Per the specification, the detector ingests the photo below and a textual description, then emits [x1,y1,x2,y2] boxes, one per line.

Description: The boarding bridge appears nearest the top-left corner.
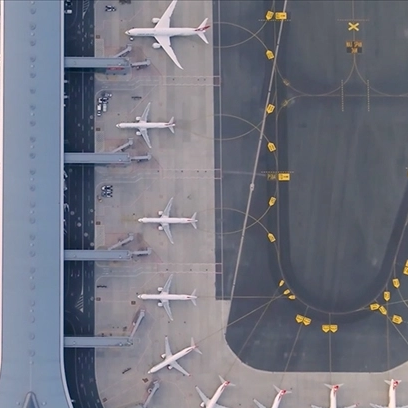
[64,44,152,75]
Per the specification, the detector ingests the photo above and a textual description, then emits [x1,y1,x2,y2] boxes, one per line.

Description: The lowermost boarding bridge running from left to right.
[64,312,145,347]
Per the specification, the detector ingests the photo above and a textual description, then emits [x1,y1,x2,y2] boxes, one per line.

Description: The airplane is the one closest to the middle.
[137,198,198,244]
